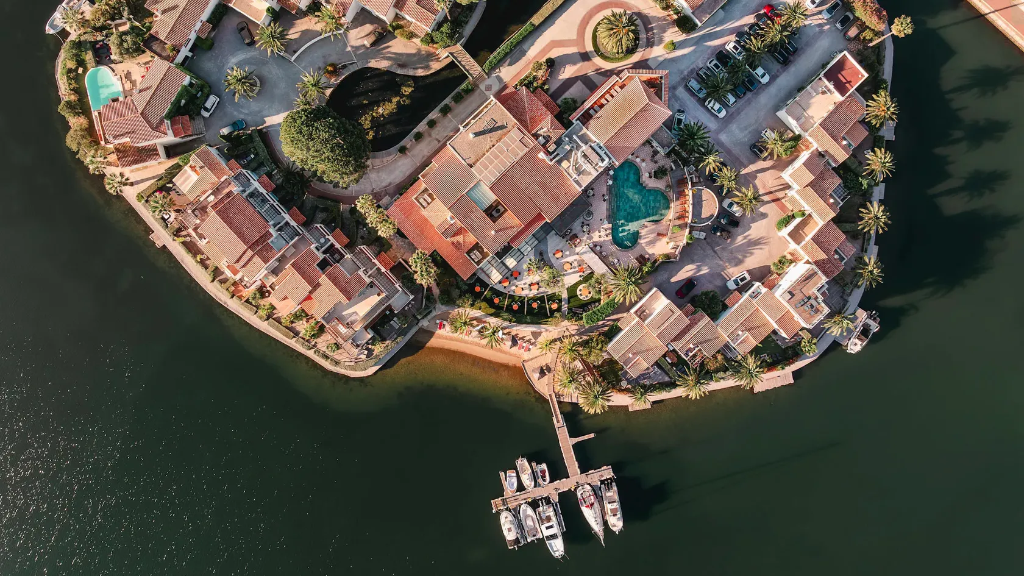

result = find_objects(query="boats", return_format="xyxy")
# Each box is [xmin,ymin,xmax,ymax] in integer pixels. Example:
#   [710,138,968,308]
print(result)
[505,467,518,498]
[49,0,73,36]
[499,506,520,553]
[573,472,601,538]
[535,458,550,491]
[515,453,538,497]
[518,501,541,544]
[601,479,622,530]
[536,498,563,558]
[846,309,881,352]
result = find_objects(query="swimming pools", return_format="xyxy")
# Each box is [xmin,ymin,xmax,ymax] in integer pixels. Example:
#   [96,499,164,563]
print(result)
[609,159,672,252]
[84,66,124,111]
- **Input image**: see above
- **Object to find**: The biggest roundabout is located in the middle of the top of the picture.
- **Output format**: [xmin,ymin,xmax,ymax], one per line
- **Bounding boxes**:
[577,1,655,78]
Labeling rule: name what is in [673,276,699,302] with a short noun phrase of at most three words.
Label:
car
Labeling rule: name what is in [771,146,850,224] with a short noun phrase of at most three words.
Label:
house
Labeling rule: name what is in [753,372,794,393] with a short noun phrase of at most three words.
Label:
pier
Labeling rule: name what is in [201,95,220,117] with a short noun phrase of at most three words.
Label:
car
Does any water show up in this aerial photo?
Yes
